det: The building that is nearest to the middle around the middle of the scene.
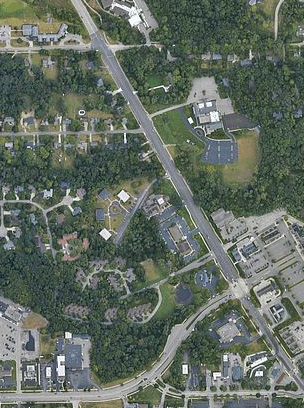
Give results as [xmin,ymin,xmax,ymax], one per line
[144,190,167,218]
